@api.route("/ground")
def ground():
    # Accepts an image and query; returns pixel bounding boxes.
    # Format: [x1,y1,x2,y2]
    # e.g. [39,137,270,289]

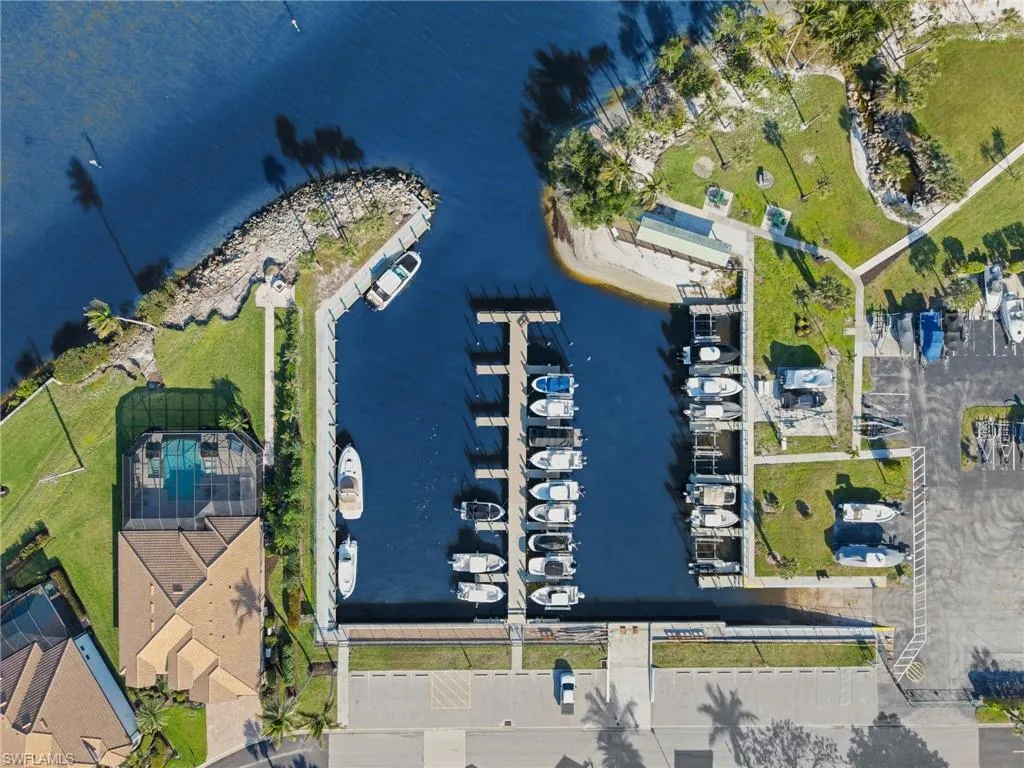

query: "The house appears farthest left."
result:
[0,635,134,768]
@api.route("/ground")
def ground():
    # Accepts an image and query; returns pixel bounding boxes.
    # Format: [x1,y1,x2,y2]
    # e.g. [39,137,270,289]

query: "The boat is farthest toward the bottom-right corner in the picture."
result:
[830,546,901,567]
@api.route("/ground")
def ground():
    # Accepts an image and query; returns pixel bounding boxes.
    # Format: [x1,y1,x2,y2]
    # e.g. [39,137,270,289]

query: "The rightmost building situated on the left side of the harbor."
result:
[118,519,267,707]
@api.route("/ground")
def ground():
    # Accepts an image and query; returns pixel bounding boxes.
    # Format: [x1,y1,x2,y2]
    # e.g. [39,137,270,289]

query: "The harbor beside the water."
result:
[315,206,896,646]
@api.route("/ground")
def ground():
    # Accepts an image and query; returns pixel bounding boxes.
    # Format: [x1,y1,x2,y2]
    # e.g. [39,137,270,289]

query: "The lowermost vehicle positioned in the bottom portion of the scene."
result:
[559,672,576,714]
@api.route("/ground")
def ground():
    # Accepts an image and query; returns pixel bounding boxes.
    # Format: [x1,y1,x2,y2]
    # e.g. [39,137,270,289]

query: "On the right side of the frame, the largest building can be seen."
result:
[612,216,736,270]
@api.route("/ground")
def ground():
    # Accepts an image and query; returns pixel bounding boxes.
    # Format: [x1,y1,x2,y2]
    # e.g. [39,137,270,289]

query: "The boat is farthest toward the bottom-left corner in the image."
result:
[339,536,356,600]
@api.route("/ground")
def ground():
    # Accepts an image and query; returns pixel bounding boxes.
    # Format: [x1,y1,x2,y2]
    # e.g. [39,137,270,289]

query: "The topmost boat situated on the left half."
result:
[362,254,418,316]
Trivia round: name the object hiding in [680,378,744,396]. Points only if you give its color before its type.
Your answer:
white boat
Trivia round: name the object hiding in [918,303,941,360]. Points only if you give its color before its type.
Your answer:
blue boat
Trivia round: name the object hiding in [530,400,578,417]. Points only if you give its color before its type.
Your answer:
white boat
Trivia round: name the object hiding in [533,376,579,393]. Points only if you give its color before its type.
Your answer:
blue boat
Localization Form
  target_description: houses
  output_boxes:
[118,519,267,707]
[0,635,134,768]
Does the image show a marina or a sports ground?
marina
